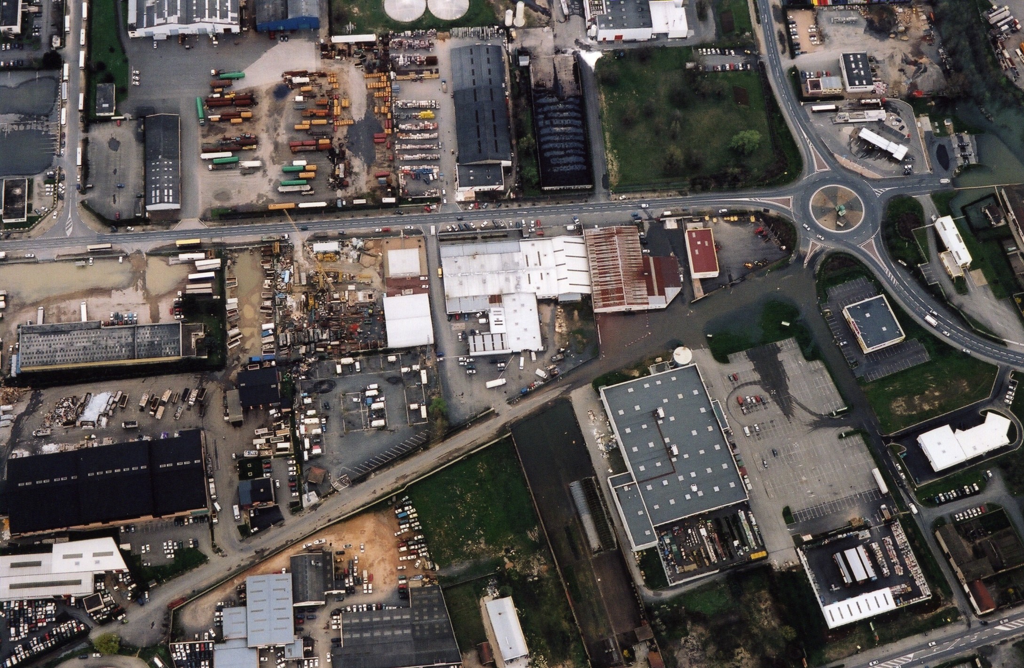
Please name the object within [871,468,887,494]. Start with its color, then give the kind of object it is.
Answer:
white vehicle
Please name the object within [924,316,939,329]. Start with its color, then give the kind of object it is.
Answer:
white vehicle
